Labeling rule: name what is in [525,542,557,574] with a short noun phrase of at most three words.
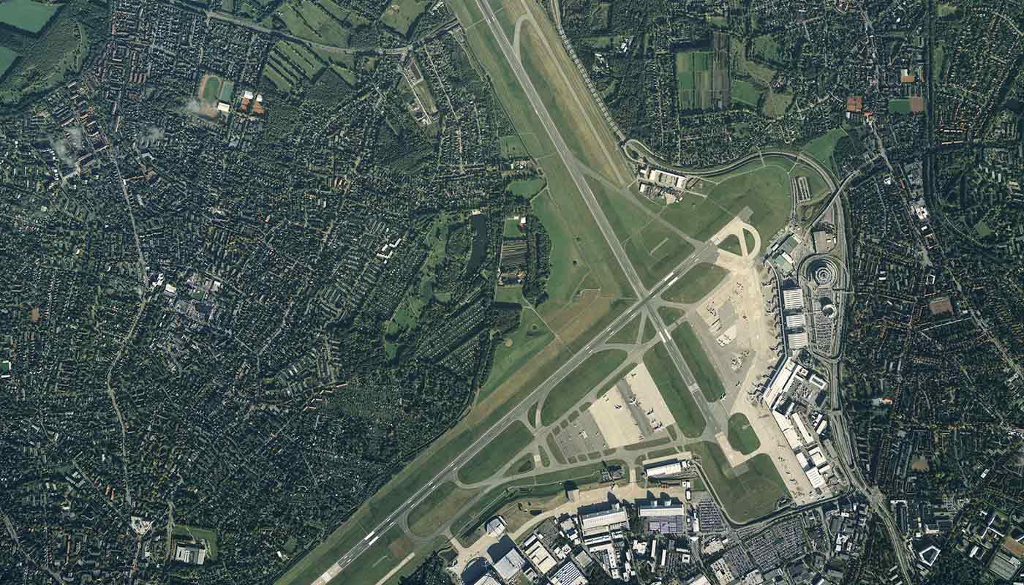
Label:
building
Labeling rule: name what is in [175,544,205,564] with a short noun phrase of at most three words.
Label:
building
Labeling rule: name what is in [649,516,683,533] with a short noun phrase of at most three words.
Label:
hangar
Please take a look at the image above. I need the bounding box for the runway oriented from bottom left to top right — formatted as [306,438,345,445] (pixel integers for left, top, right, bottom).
[310,202,755,585]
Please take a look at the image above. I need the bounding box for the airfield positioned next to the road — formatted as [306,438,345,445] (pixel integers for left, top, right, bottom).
[273,0,852,585]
